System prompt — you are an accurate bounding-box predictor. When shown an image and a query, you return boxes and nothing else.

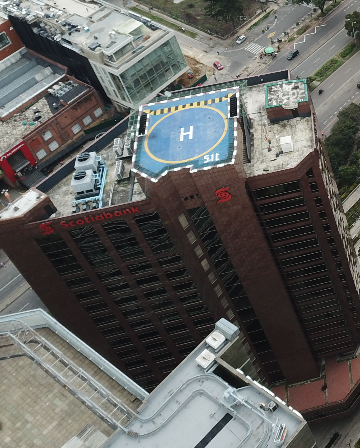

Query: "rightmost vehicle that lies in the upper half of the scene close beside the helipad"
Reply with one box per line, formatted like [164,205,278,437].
[263,58,293,82]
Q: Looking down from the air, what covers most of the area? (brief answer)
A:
buildings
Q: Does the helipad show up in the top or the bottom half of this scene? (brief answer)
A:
top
